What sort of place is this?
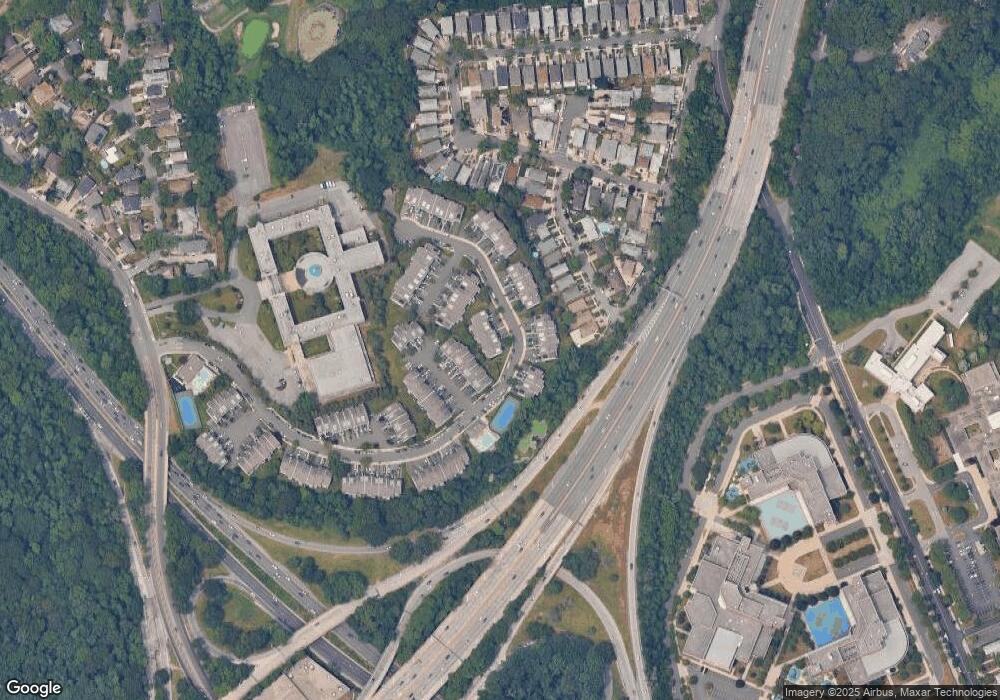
residential area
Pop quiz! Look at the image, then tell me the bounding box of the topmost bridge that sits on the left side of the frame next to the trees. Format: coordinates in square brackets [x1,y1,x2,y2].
[146,420,168,511]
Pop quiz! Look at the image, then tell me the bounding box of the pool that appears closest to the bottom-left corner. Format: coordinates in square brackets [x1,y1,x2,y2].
[194,364,219,392]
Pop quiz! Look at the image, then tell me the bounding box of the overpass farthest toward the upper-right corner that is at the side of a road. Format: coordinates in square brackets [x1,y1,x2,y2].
[699,92,785,229]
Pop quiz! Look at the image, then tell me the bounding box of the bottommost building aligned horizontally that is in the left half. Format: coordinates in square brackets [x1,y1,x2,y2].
[250,656,351,700]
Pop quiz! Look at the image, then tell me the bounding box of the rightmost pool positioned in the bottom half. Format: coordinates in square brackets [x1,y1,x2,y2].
[471,430,500,452]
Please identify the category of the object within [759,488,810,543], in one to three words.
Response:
sports court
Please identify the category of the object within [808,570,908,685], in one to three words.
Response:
building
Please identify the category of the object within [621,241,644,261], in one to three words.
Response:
house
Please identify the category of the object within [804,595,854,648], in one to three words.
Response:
sports court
